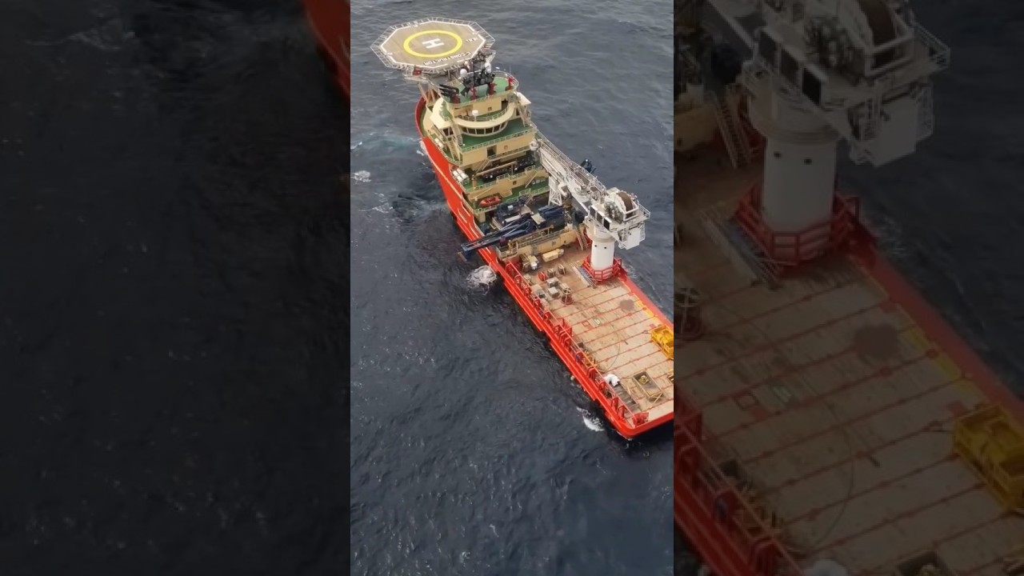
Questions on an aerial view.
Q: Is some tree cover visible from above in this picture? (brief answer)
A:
No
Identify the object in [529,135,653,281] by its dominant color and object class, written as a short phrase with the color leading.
white crane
